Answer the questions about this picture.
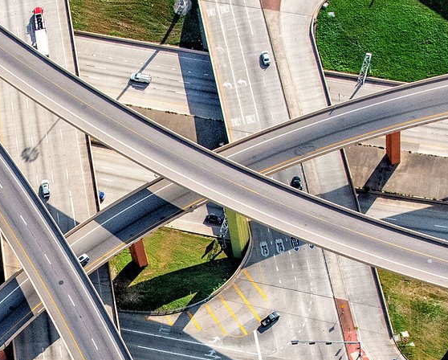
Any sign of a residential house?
No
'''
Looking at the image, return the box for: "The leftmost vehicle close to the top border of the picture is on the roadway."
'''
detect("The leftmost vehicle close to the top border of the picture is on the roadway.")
[34,14,51,54]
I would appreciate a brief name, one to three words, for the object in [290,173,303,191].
vehicle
